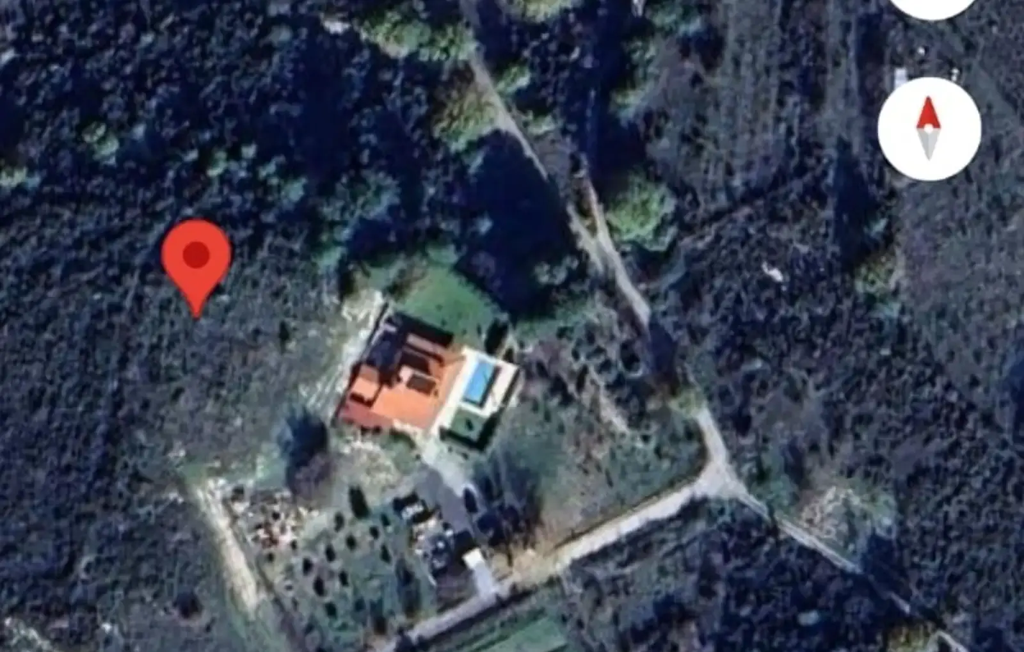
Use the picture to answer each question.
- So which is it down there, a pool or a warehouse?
pool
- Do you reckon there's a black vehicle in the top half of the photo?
No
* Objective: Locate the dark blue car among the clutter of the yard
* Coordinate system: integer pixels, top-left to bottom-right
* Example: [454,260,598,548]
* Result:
[436,537,452,561]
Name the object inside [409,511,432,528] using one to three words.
car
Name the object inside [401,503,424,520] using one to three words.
car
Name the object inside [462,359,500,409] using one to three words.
swimming pool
